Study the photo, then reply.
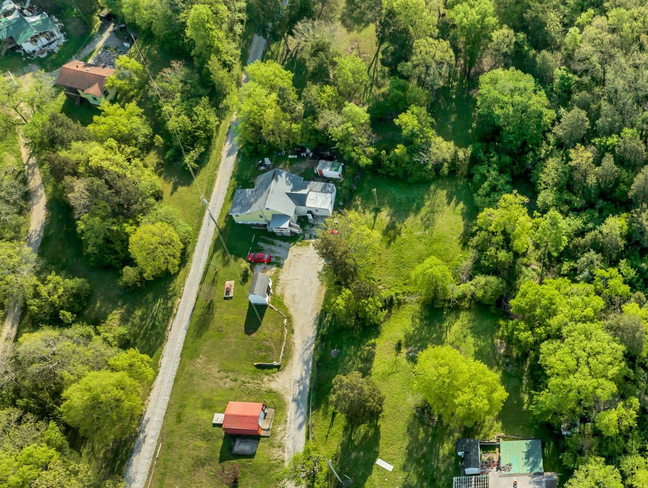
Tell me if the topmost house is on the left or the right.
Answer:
left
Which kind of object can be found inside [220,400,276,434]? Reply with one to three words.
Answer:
building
